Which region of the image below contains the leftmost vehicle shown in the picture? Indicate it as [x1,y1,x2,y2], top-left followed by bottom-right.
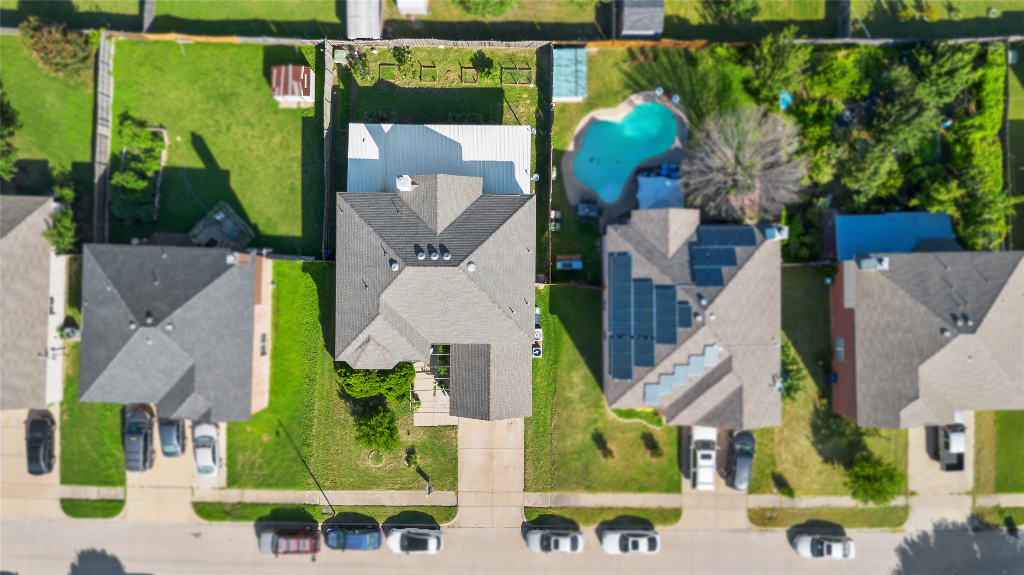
[24,412,58,472]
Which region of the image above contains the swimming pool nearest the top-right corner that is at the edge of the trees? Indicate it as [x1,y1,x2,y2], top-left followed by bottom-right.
[573,103,675,203]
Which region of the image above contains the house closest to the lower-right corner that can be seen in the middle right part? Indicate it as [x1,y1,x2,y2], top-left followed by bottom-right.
[830,242,1024,434]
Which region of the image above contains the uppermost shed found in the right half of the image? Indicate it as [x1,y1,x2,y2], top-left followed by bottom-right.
[618,0,664,40]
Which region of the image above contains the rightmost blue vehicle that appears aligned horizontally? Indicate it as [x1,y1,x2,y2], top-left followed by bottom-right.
[327,525,382,552]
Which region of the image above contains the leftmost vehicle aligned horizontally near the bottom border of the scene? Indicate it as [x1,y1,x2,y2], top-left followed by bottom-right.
[260,526,322,556]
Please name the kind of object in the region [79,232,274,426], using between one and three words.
house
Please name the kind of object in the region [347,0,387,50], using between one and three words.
shed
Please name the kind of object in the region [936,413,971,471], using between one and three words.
truck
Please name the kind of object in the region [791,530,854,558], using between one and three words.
car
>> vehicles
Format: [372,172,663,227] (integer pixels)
[726,432,756,488]
[601,527,660,555]
[691,426,720,490]
[387,525,443,554]
[791,530,854,558]
[158,418,188,455]
[123,405,156,467]
[192,422,223,479]
[526,526,583,554]
[24,412,58,472]
[327,525,382,552]
[260,526,322,556]
[936,413,971,471]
